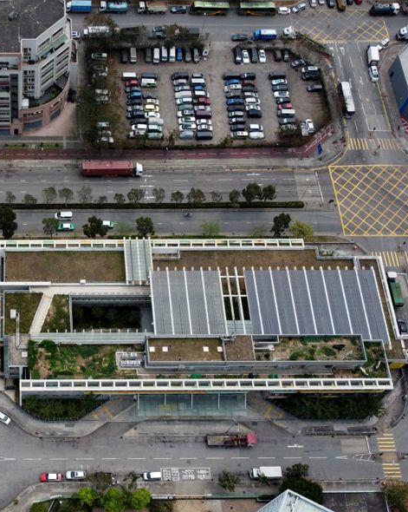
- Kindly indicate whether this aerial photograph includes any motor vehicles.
Yes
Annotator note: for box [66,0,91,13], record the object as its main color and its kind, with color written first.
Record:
blue vehicle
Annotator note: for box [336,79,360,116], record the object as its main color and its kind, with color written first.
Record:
white bus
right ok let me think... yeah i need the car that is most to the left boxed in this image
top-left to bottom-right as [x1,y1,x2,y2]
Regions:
[0,411,12,425]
